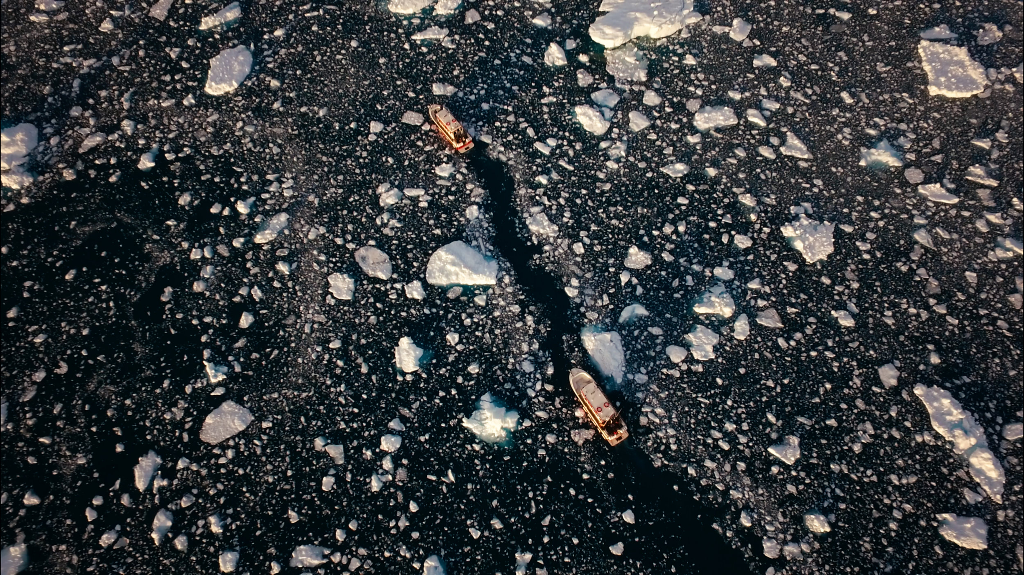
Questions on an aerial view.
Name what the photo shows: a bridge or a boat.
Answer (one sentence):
It is a boat that can be seen here.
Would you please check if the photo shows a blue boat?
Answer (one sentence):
No, the scene contains no blue boat.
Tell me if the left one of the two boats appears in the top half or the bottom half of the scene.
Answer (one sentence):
The top half of the photo is where the left one of the two boats is.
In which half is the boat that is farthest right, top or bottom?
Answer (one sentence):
The boat that is farthest right is in the bottom half of the image.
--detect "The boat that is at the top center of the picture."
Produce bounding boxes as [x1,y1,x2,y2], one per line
[427,102,473,154]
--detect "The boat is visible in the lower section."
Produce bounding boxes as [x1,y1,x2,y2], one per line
[569,367,629,446]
